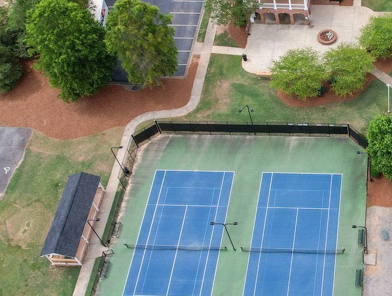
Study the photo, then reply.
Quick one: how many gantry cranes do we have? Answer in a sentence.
The count of gantry cranes is 0.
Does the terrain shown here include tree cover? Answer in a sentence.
Yes, the picture does contain tree cover.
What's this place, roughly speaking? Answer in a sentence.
This looks like a sports ground.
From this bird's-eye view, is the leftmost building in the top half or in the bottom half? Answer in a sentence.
The leftmost building is in the bottom half of the image.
